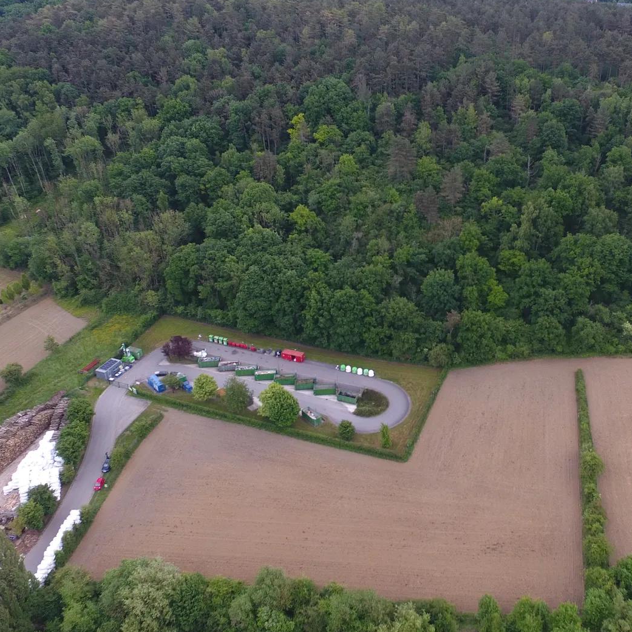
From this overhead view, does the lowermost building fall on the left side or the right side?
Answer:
left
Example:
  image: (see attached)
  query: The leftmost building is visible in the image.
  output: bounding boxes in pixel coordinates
[96,358,124,380]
